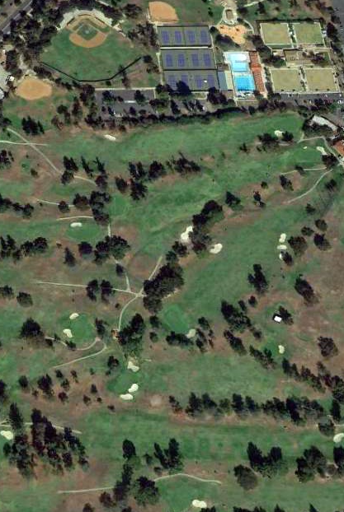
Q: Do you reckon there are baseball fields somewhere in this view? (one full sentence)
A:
Yes, this view includes a baseball field.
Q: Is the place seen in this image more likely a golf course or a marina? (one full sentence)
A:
What you see here is a golf course.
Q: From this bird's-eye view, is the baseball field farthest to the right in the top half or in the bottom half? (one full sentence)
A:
The baseball field farthest to the right sits in the top half of the picture.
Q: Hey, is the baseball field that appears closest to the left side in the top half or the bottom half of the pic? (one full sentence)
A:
Seen from above, the baseball field that appears closest to the left side lies in the top half of the view.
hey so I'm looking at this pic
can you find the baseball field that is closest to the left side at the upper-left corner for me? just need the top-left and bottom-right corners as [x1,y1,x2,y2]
[17,73,53,99]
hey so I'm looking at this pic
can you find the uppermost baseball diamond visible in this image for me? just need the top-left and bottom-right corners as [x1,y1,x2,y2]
[147,0,179,29]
